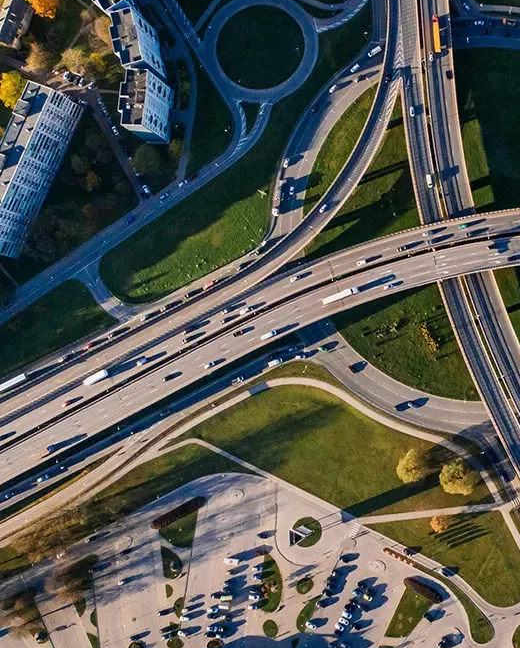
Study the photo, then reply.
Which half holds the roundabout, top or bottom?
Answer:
top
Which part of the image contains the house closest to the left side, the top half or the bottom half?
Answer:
top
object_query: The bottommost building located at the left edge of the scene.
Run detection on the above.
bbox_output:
[0,79,87,259]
